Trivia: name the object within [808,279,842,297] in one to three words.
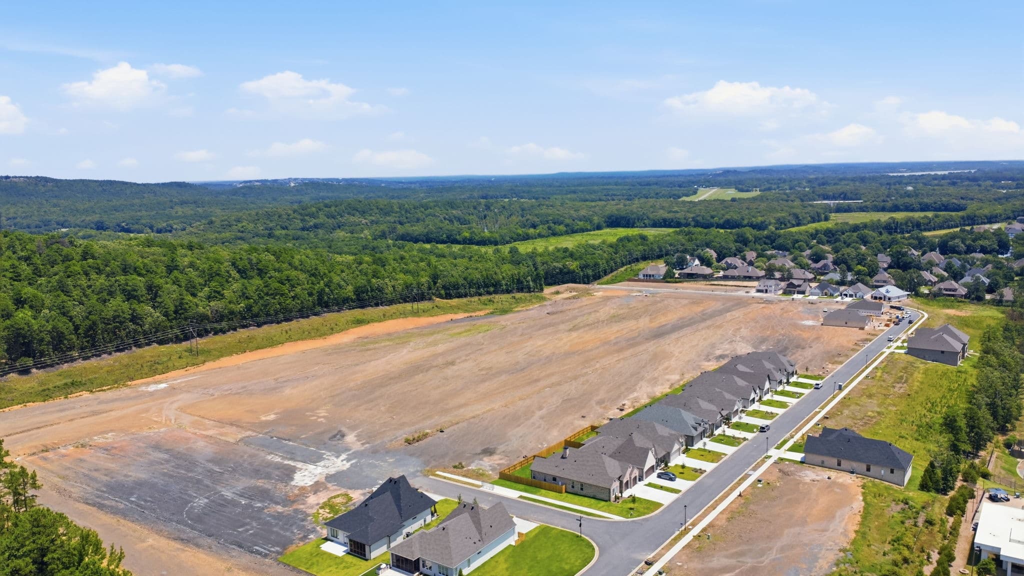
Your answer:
house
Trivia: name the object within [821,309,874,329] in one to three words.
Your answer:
house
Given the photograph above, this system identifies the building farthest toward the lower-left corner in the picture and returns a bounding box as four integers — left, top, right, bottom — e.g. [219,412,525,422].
[322,477,446,559]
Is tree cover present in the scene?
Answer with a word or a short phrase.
Yes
